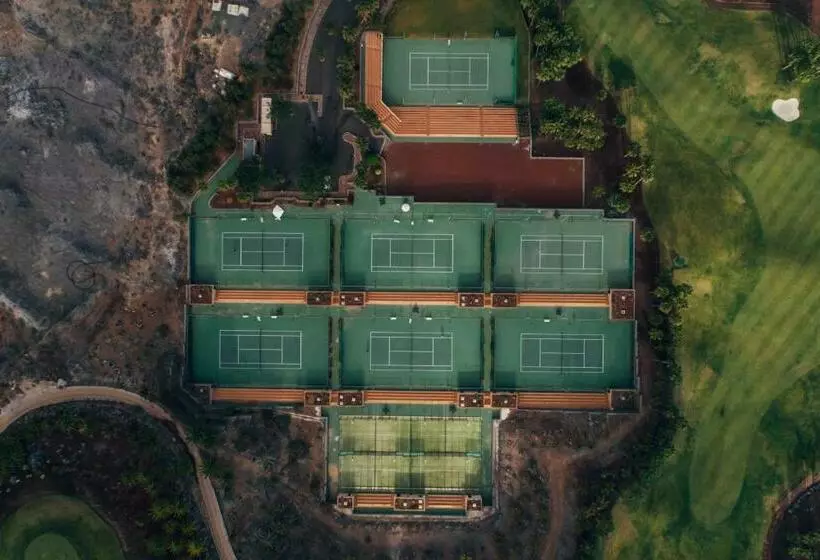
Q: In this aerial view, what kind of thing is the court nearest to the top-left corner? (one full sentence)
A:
It looks like the court nearest to the top-left corner is a tennis court.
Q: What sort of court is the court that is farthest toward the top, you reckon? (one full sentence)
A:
It looks like the court that is farthest toward the top is a tennis court.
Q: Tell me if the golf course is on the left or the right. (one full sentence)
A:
It is on the right.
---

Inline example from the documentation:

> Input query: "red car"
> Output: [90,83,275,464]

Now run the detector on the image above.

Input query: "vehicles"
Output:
[216,65,235,79]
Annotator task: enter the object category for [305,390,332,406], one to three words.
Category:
building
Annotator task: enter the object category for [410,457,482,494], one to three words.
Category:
sports court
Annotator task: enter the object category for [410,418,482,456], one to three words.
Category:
sports court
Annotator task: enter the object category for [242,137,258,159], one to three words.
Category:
shed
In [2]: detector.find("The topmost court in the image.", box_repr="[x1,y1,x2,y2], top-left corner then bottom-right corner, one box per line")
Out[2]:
[383,38,515,107]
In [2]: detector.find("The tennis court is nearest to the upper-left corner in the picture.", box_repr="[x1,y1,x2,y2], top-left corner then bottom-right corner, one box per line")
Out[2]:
[195,218,330,288]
